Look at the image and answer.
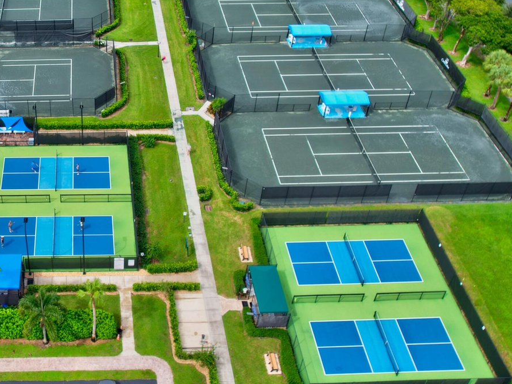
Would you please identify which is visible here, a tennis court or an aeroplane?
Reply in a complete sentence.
This aerial view contains a tennis court.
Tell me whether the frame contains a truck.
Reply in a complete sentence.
No, there isn't any truck down there.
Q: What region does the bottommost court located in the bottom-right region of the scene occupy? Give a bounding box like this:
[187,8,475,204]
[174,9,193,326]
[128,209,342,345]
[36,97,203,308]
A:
[309,311,466,376]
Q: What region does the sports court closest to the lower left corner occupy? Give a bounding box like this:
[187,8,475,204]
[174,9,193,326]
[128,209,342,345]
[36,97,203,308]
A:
[0,209,114,258]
